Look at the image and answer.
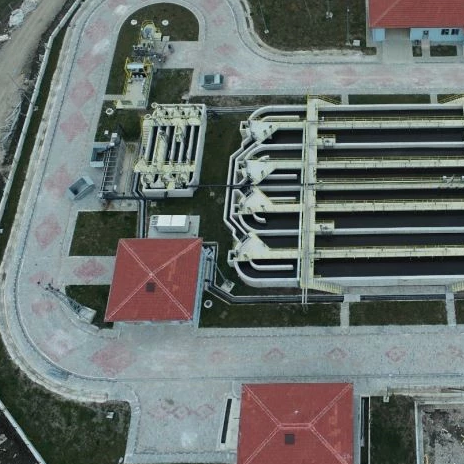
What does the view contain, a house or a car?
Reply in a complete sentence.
The one in the frame is a house.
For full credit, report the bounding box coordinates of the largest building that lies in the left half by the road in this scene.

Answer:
[103,237,205,328]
